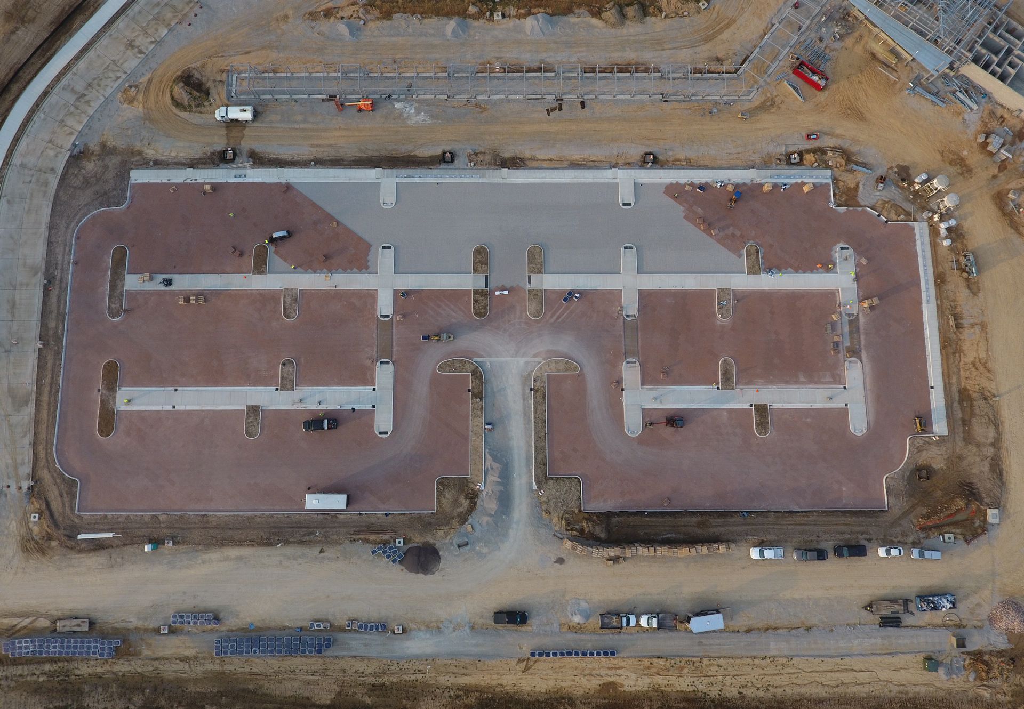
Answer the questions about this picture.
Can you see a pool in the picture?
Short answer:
No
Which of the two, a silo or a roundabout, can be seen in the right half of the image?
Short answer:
silo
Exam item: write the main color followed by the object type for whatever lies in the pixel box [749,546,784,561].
white vehicle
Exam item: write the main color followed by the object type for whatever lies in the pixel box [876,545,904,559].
white car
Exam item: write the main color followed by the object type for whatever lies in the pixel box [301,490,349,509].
white trailer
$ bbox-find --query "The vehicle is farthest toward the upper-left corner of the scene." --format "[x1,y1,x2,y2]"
[212,105,262,124]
